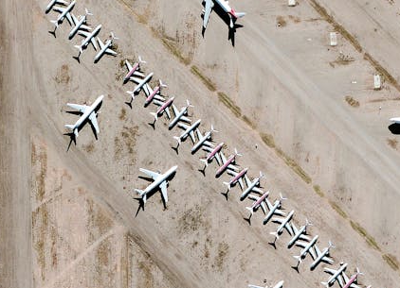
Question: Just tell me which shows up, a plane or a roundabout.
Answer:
plane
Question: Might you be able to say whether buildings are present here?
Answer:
No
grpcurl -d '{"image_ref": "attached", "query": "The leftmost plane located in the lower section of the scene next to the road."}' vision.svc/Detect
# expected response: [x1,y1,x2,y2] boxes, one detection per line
[134,166,177,202]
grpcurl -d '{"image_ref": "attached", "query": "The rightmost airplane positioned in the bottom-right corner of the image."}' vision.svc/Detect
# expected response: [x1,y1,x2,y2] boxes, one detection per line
[343,268,365,288]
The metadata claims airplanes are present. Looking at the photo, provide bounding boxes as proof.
[290,219,312,246]
[150,98,174,120]
[126,73,153,98]
[343,268,365,288]
[218,149,243,176]
[322,264,348,288]
[201,143,223,165]
[170,100,194,128]
[48,0,70,10]
[71,8,93,36]
[173,120,201,143]
[50,0,75,26]
[242,172,266,199]
[194,125,219,152]
[124,55,146,84]
[65,96,103,136]
[75,26,100,52]
[146,80,168,105]
[134,166,177,202]
[311,241,335,269]
[246,192,269,213]
[223,168,248,189]
[294,236,319,262]
[96,32,119,60]
[265,193,288,221]
[270,211,294,238]
[202,0,247,27]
